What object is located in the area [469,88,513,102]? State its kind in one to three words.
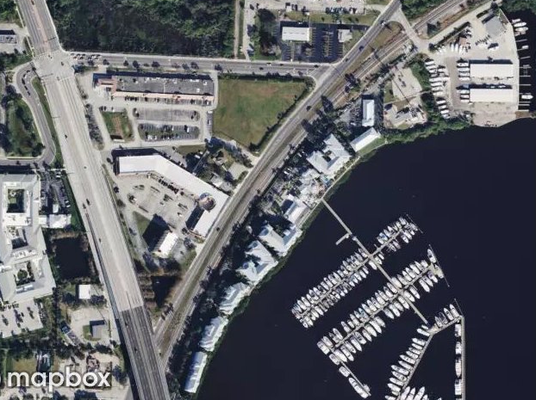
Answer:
shed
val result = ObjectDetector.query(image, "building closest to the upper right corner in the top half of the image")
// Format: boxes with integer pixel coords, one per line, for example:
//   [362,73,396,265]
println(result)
[479,15,508,39]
